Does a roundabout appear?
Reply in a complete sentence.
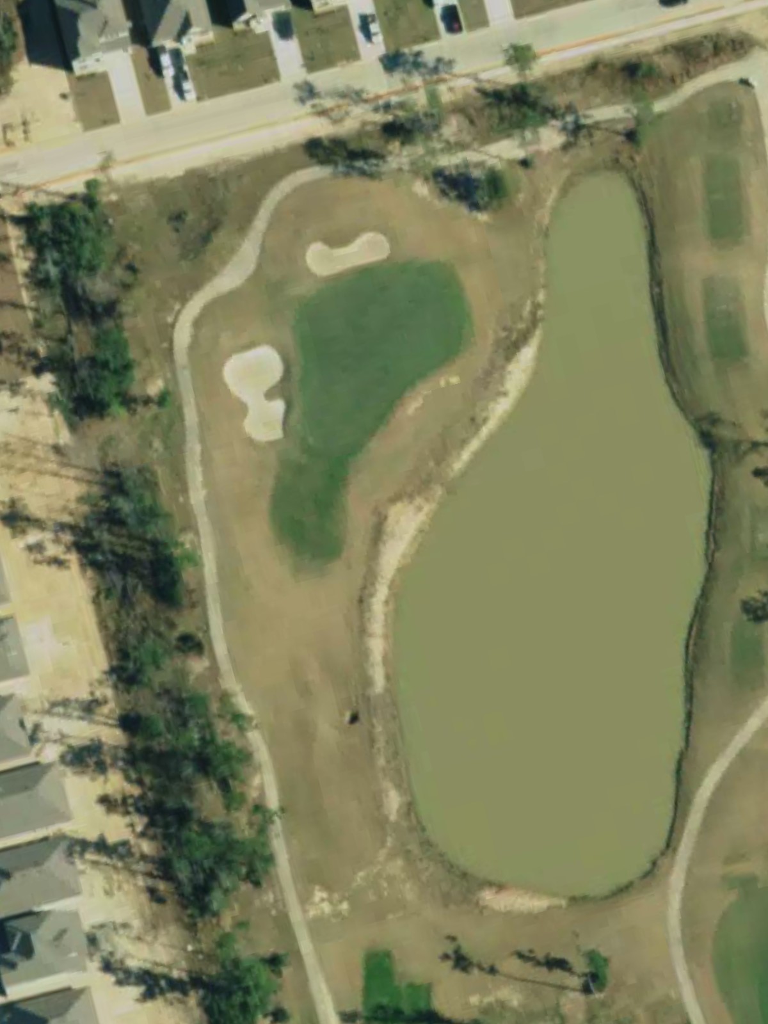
No, no roundabout can be seen from above.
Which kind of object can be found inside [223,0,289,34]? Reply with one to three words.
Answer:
house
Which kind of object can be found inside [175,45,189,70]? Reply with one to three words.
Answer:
car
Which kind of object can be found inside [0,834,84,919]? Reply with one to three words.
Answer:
house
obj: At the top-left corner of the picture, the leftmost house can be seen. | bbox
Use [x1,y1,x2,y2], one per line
[54,0,132,74]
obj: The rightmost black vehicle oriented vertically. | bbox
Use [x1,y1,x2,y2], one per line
[446,5,460,30]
